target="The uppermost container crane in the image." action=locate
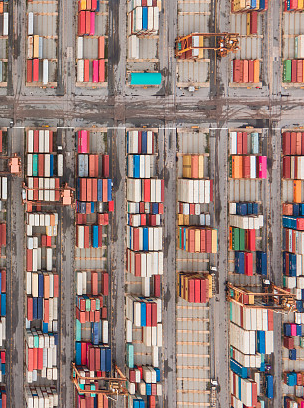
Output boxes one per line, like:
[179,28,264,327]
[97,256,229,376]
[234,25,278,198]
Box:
[177,31,241,59]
